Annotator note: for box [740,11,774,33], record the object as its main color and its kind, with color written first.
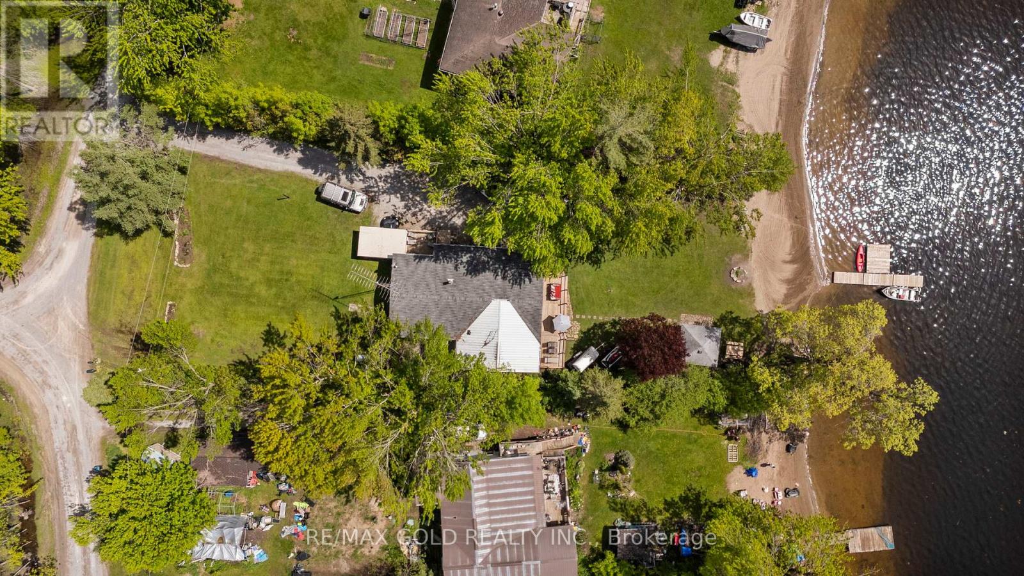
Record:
white boat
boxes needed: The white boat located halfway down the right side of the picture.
[880,286,928,303]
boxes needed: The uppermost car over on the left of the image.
[319,182,371,214]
